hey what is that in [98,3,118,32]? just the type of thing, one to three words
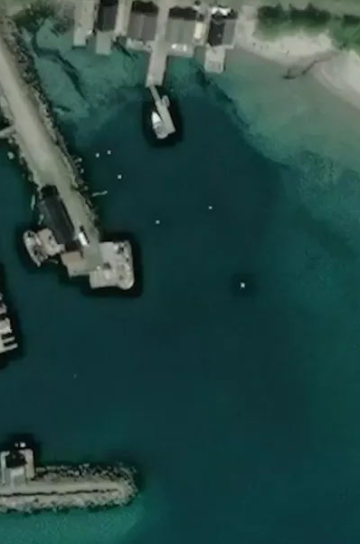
building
